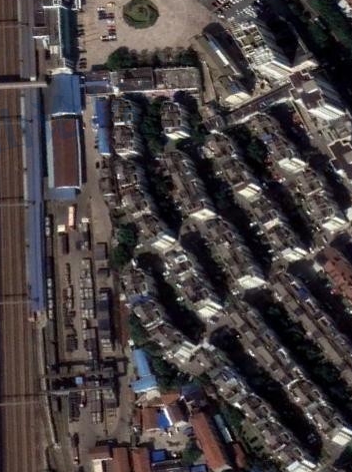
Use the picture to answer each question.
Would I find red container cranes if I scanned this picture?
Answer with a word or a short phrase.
No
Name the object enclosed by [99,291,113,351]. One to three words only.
shed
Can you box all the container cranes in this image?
[43,370,114,400]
